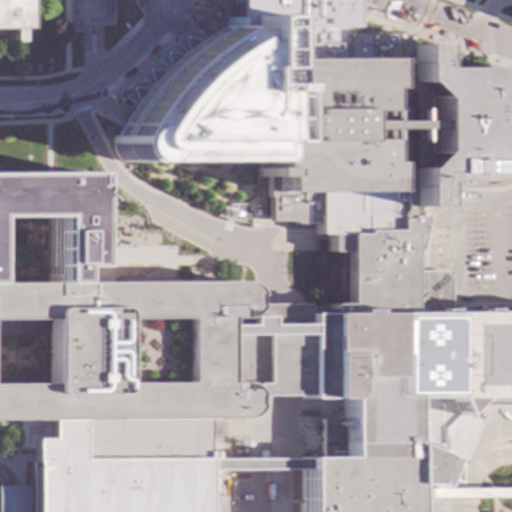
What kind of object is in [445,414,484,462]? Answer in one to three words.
building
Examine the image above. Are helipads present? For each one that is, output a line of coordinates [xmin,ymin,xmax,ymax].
[414,317,471,394]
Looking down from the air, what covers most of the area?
buildings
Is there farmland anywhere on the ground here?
No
